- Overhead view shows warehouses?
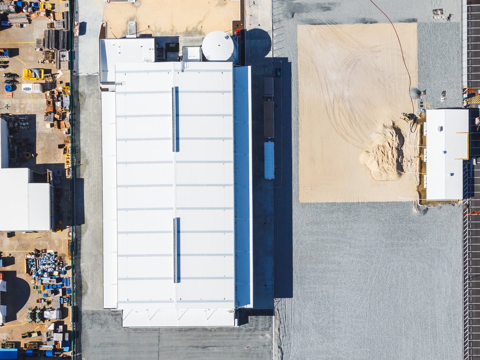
Yes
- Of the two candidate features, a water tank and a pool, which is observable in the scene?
water tank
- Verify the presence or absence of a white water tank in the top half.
Yes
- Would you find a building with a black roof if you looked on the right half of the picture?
No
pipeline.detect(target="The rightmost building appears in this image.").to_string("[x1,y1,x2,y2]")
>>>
[422,109,469,202]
